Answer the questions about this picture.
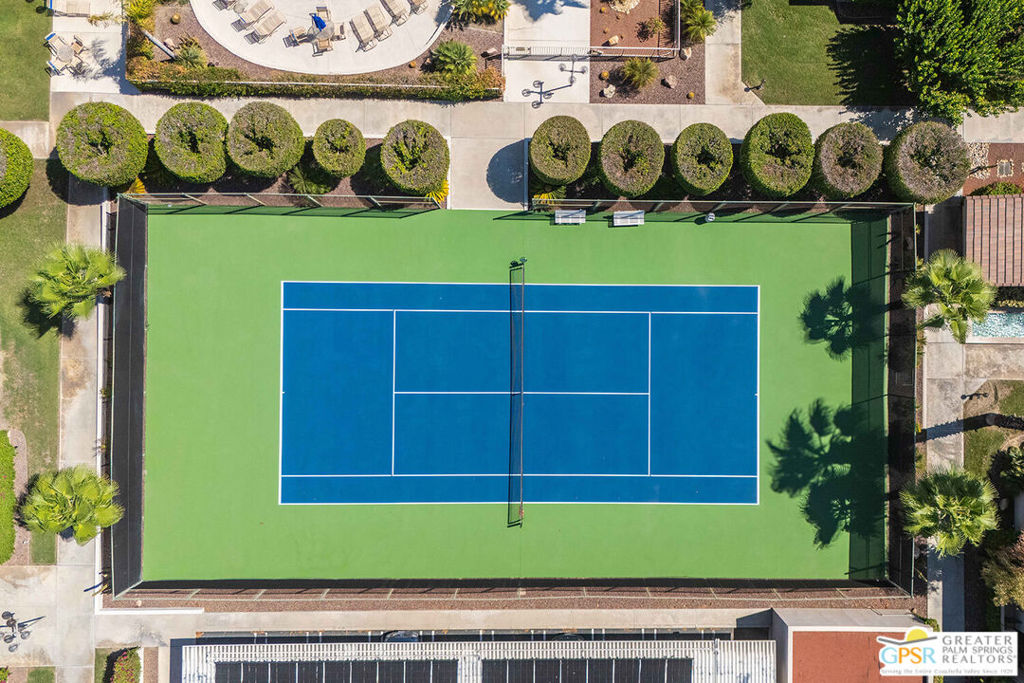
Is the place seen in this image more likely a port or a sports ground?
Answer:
sports ground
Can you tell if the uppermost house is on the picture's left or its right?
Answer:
right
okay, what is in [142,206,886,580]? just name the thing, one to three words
tennis court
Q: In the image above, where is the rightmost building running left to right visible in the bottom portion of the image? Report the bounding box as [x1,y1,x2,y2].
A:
[772,606,932,683]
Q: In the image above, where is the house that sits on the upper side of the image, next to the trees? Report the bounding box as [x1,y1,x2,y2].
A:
[941,195,1024,287]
